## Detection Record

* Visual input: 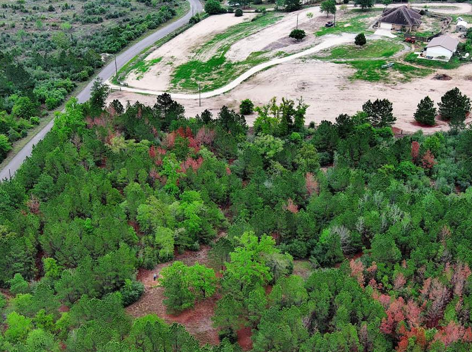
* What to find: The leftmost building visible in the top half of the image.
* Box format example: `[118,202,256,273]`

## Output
[378,7,433,33]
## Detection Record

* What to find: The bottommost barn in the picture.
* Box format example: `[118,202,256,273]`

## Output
[424,34,461,59]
